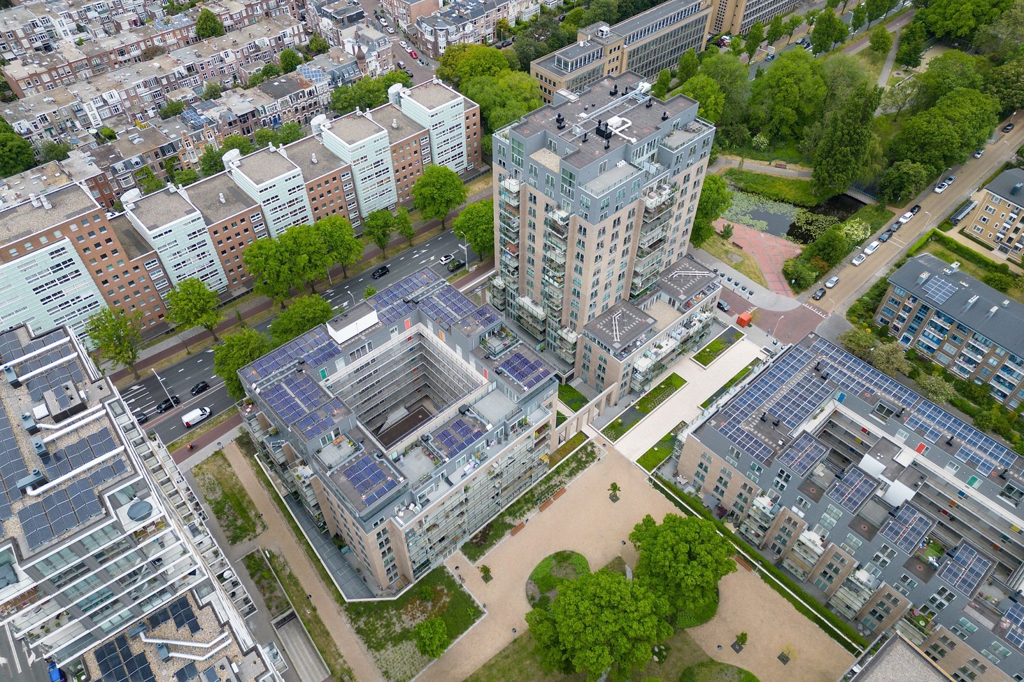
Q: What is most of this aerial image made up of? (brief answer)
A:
buildings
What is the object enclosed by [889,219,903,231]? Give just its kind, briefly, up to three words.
vehicle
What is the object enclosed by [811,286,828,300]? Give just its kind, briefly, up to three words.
car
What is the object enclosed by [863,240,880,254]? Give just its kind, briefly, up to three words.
car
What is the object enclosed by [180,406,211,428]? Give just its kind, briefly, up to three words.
vehicle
